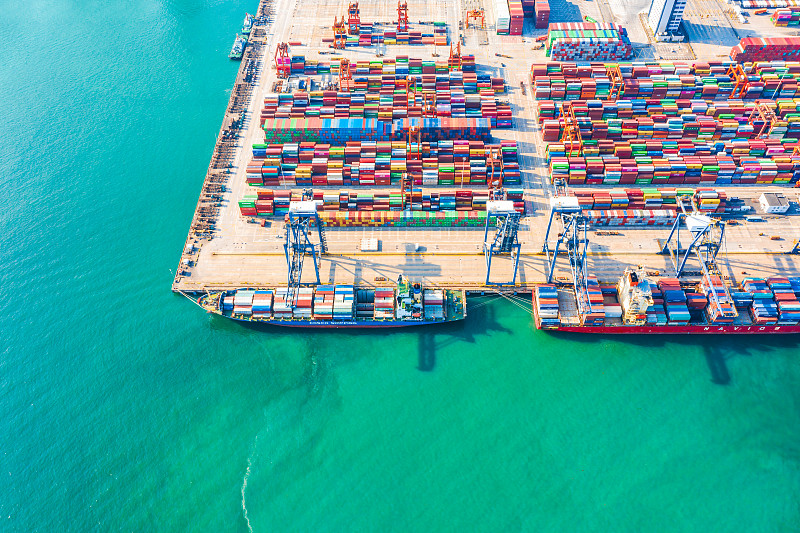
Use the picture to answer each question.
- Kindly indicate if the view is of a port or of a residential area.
port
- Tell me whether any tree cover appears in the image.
No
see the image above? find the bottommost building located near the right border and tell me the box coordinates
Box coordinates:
[761,193,798,214]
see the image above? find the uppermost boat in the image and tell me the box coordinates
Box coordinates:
[241,13,254,35]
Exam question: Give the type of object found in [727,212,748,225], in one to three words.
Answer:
vehicle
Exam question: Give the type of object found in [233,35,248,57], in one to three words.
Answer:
boat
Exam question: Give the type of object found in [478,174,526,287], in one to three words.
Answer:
container crane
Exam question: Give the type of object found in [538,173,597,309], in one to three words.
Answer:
container crane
